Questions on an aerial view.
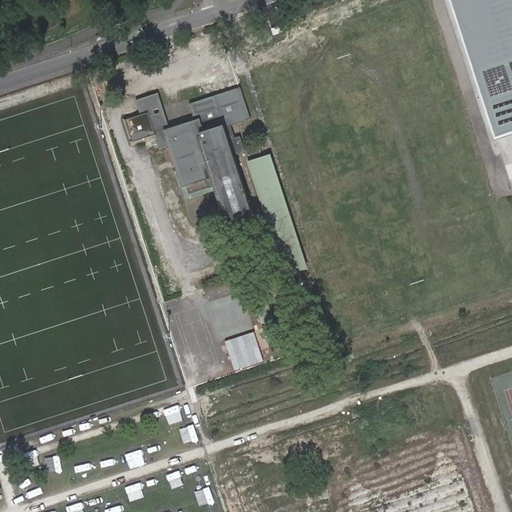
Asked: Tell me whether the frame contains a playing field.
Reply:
Yes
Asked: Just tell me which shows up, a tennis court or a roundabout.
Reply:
tennis court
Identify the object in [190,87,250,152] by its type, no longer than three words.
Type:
building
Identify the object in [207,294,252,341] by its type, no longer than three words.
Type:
sports court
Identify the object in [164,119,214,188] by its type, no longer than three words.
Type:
building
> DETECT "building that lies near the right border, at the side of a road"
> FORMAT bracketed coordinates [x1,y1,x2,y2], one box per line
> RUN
[446,0,512,138]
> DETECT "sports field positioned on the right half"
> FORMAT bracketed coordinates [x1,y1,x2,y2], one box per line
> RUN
[240,0,512,342]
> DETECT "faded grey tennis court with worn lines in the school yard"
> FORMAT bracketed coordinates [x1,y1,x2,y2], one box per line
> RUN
[174,304,218,370]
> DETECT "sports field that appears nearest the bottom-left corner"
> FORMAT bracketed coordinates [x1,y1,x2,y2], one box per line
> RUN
[0,84,178,443]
